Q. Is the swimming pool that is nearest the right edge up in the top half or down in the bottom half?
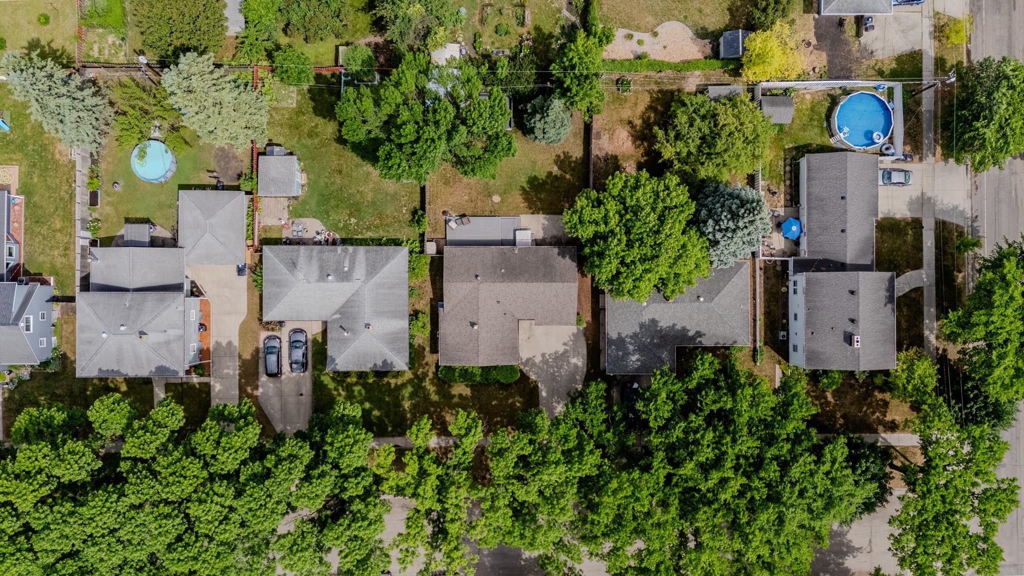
top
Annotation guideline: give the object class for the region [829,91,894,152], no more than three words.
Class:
swimming pool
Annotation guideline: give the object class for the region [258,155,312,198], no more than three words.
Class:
shed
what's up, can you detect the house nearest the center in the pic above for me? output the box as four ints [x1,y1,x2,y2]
[437,246,578,367]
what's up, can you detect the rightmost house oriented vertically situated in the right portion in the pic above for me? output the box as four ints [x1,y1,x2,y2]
[786,151,896,371]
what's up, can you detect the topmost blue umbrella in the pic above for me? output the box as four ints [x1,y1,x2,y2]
[780,217,802,240]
